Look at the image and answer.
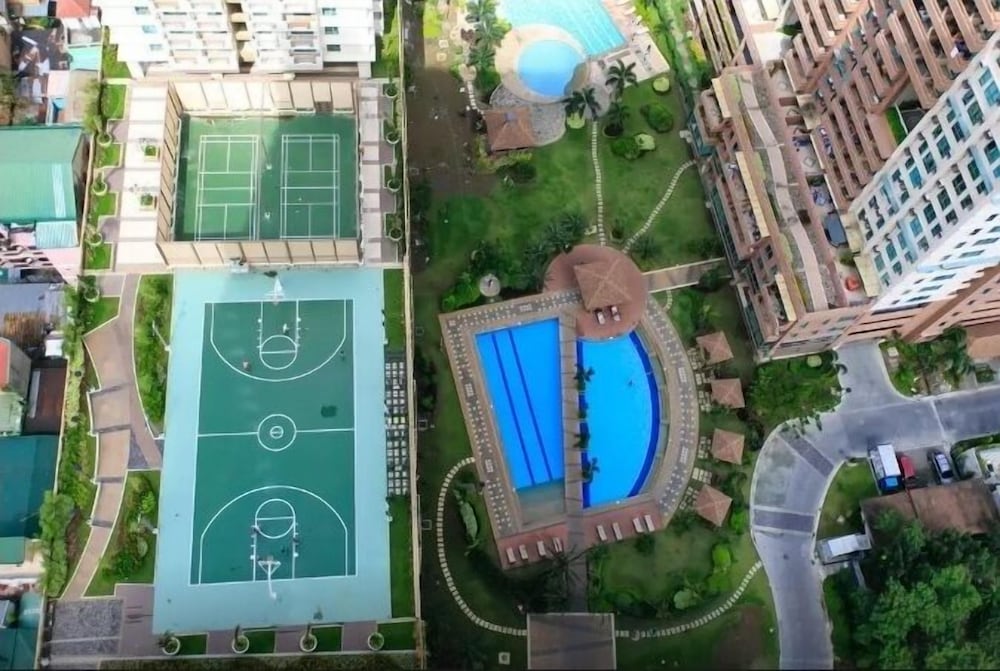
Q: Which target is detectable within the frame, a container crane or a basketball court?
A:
basketball court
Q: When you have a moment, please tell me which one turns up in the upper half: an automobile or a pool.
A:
pool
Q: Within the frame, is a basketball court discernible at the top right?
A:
No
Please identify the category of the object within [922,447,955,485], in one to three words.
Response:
car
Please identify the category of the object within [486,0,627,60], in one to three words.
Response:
swimming pool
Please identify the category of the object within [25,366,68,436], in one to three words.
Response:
house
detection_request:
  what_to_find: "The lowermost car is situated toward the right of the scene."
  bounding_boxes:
[814,535,868,567]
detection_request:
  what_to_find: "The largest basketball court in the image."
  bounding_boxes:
[153,264,391,633]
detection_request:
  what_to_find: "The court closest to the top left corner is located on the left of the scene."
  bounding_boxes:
[173,114,357,238]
